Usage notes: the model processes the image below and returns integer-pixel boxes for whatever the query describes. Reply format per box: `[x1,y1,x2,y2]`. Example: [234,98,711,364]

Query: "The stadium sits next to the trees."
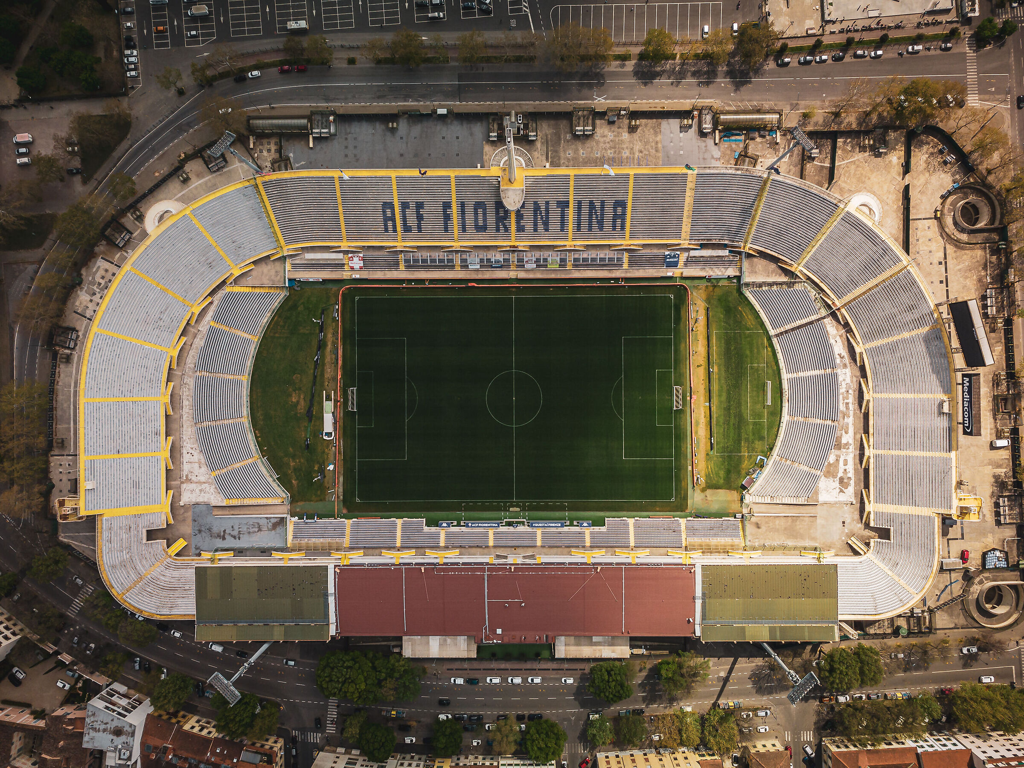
[54,146,984,659]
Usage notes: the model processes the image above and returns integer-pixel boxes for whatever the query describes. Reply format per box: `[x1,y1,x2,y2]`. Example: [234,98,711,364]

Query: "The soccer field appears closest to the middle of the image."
[341,286,688,517]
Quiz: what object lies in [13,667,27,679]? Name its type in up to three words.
vehicle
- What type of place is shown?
sports ground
